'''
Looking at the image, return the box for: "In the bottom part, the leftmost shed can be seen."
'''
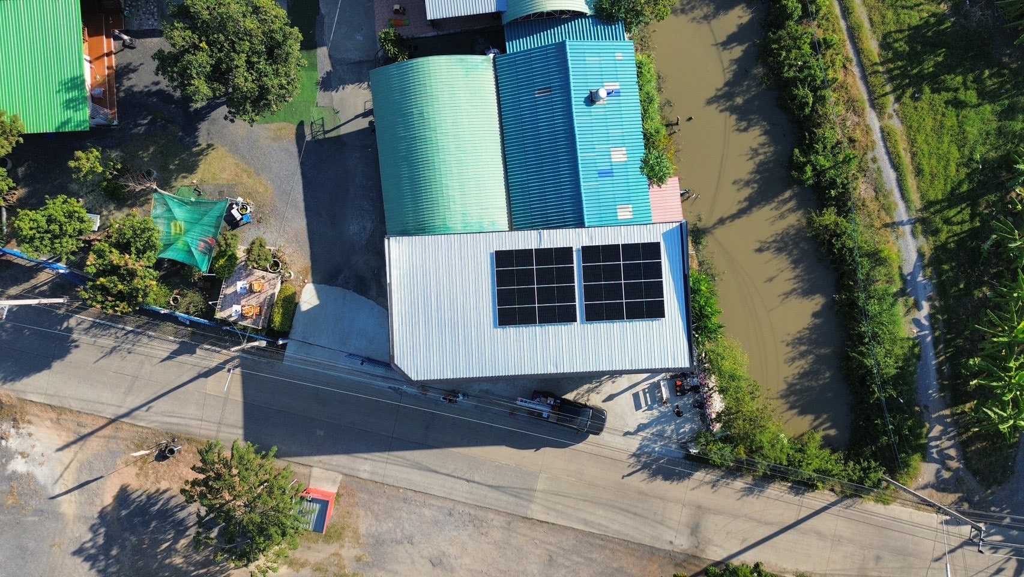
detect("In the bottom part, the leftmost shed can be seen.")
[294,487,337,532]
